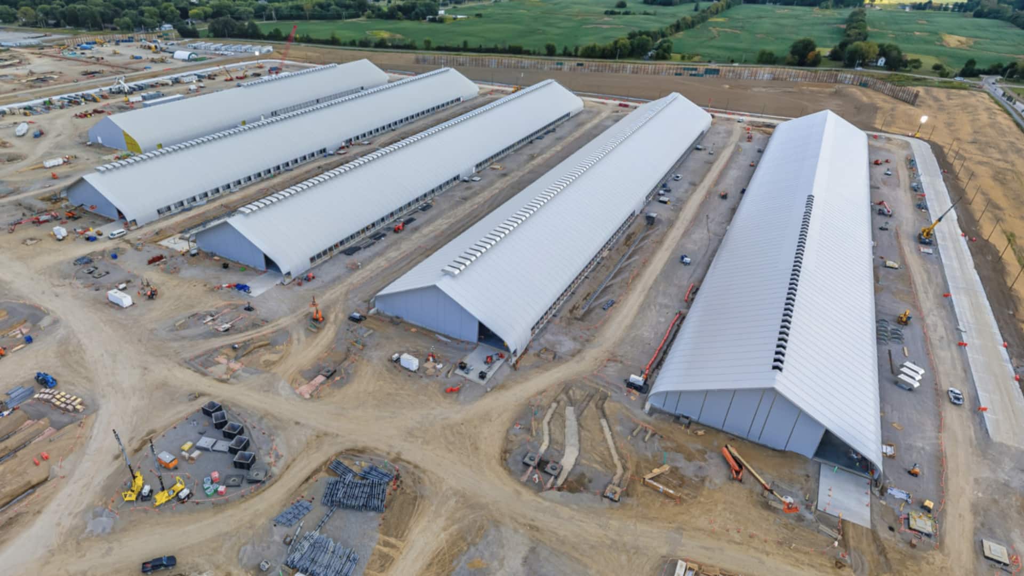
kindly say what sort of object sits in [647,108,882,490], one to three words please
building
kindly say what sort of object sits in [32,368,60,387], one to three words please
work vehicle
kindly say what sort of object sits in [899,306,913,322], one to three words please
work vehicle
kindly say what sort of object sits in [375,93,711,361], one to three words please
building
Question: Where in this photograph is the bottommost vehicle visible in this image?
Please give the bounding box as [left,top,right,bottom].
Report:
[137,554,177,572]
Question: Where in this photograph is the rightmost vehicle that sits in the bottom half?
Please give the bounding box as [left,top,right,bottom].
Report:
[948,385,966,403]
